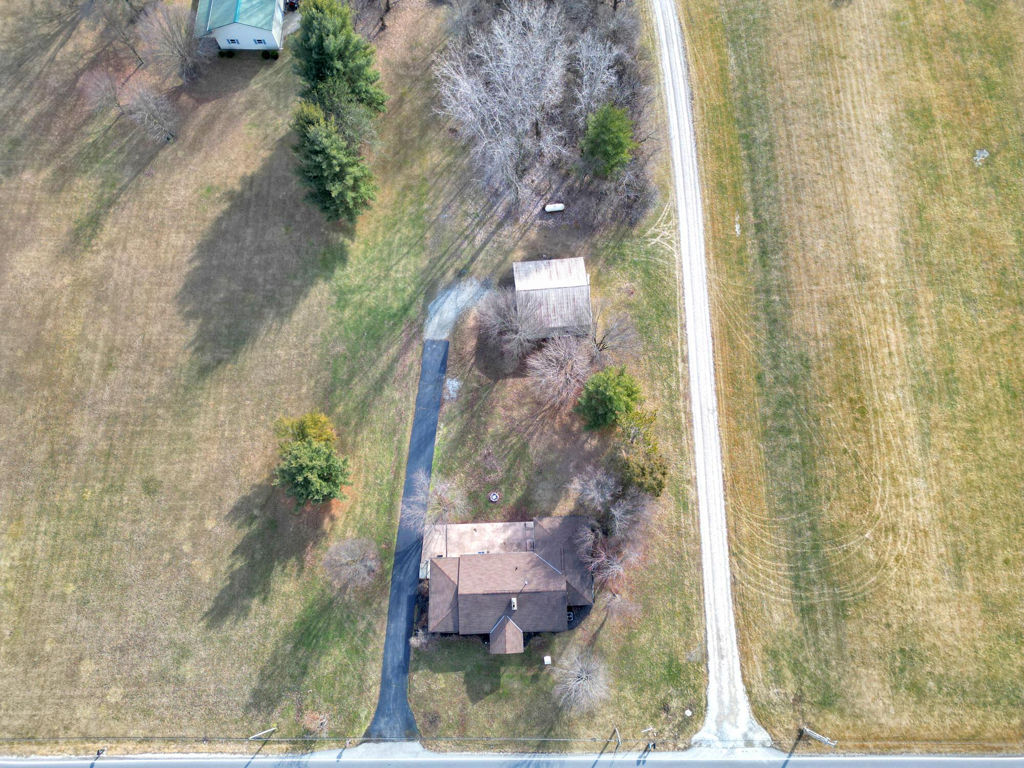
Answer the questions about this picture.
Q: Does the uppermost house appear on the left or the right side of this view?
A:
left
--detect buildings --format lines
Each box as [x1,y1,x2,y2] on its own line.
[428,515,594,654]
[513,258,591,345]
[193,0,284,51]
